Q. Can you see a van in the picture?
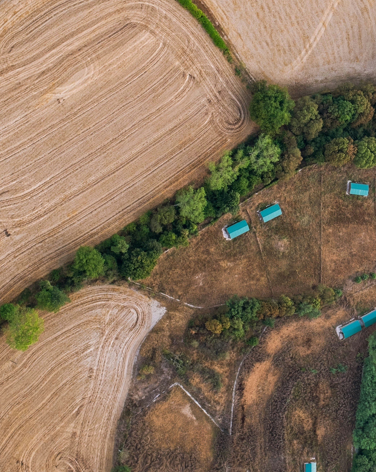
No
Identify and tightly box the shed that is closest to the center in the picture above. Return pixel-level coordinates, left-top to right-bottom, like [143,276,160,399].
[221,219,249,240]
